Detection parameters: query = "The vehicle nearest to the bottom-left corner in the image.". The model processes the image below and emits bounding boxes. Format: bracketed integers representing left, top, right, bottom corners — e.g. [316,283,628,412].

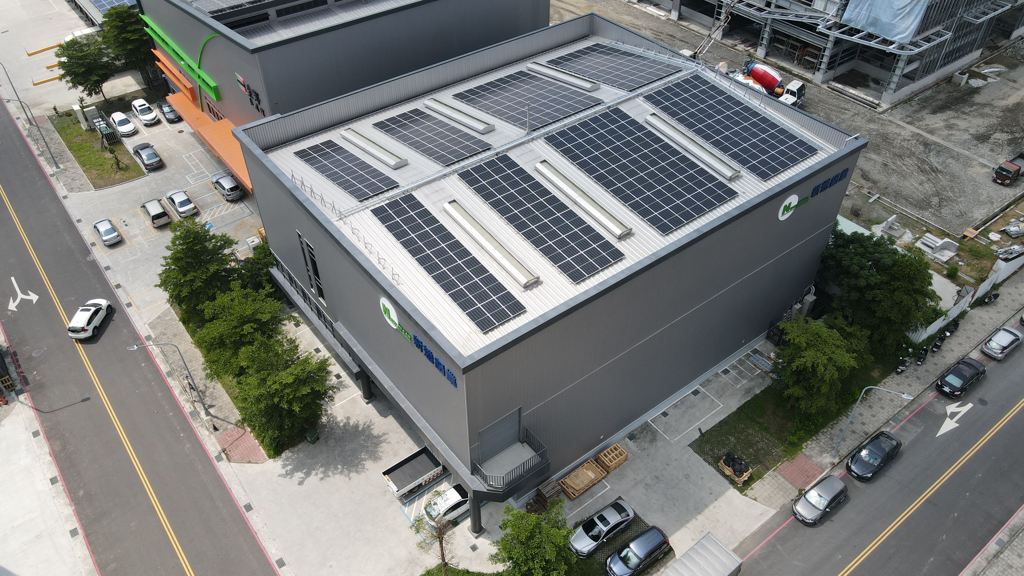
[66,296,117,339]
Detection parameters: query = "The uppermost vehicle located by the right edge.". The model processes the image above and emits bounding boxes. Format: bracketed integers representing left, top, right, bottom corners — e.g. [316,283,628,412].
[993,151,1024,184]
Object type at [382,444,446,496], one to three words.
truck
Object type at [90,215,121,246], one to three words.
car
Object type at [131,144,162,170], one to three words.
car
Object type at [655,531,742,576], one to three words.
truck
